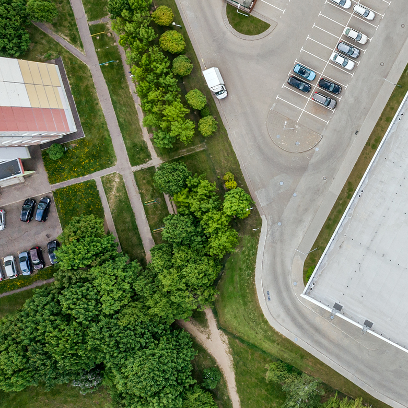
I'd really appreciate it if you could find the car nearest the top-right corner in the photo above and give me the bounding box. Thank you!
[351,2,377,21]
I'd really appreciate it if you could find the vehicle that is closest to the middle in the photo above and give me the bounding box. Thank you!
[203,66,228,101]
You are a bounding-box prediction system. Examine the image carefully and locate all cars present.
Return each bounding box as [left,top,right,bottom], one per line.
[342,26,370,45]
[4,254,22,280]
[329,51,357,71]
[291,63,318,82]
[17,250,36,277]
[330,0,354,10]
[286,75,314,94]
[311,90,339,109]
[0,260,5,281]
[35,197,53,223]
[0,209,9,232]
[317,77,344,95]
[49,240,64,265]
[21,198,38,223]
[334,40,363,60]
[30,246,47,271]
[351,2,377,21]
